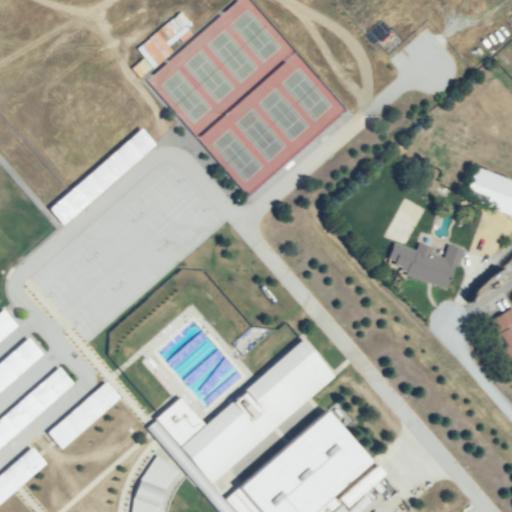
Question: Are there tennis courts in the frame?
Yes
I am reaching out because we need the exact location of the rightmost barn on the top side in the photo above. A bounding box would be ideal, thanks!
[471,164,512,211]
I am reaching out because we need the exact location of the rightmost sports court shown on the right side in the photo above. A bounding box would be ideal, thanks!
[384,198,425,244]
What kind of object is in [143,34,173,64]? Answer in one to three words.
shed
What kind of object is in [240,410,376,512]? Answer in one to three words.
building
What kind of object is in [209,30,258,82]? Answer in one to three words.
tennis court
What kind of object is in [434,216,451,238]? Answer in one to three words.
swimming pool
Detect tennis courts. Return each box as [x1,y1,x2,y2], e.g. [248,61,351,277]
[232,10,280,62]
[214,130,262,182]
[237,109,285,160]
[209,30,258,82]
[162,72,210,122]
[282,69,330,120]
[186,51,234,102]
[260,89,308,140]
